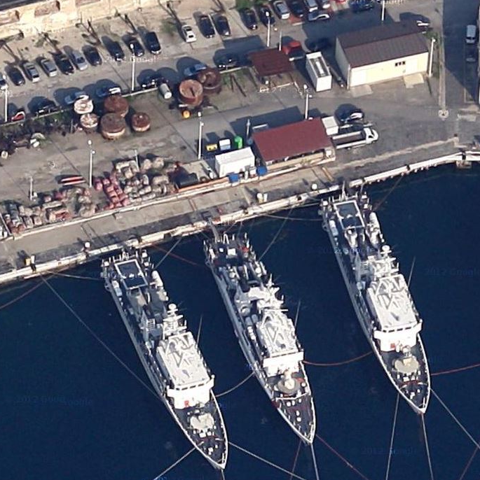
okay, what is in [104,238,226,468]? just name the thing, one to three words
ship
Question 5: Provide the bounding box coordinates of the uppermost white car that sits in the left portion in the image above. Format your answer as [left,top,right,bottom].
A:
[178,23,199,44]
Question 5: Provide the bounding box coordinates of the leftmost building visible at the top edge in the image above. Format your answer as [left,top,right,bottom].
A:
[334,17,430,97]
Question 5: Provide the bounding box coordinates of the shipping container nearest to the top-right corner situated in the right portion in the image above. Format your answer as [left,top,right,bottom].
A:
[307,53,332,91]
